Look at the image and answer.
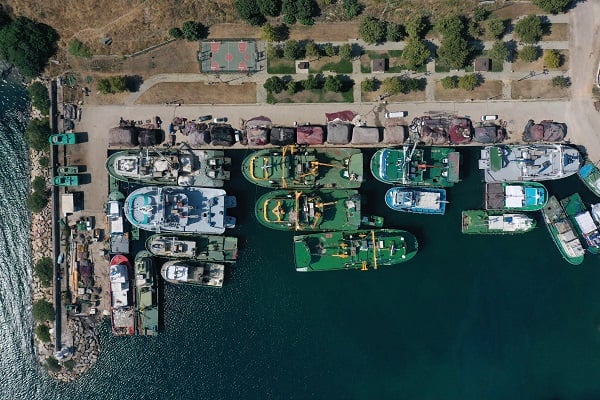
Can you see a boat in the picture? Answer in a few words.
Yes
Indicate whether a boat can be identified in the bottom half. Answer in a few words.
Yes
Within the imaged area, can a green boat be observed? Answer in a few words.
Yes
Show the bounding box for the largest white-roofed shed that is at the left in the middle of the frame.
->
[62,194,78,218]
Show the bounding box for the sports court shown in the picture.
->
[200,40,257,73]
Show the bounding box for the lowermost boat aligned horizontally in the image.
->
[161,260,226,288]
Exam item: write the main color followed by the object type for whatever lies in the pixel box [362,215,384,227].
green boat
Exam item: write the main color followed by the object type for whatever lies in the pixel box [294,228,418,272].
green boat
